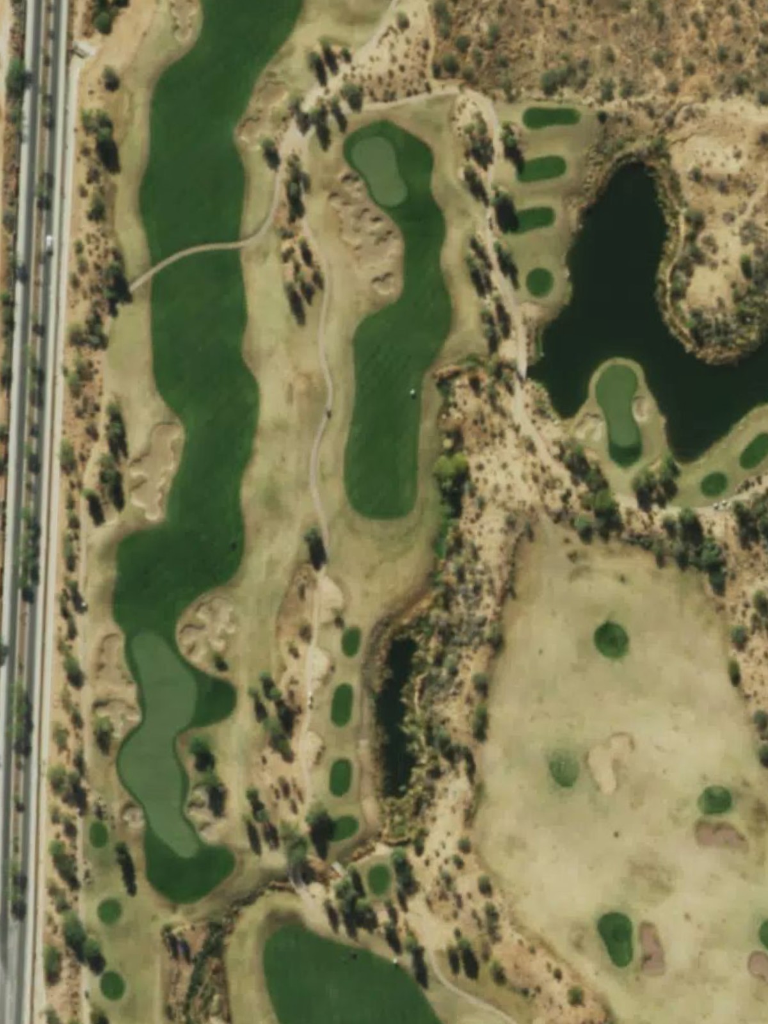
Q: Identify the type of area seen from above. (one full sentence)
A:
It's a golf course.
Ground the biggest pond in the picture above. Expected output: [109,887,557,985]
[375,634,417,798]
